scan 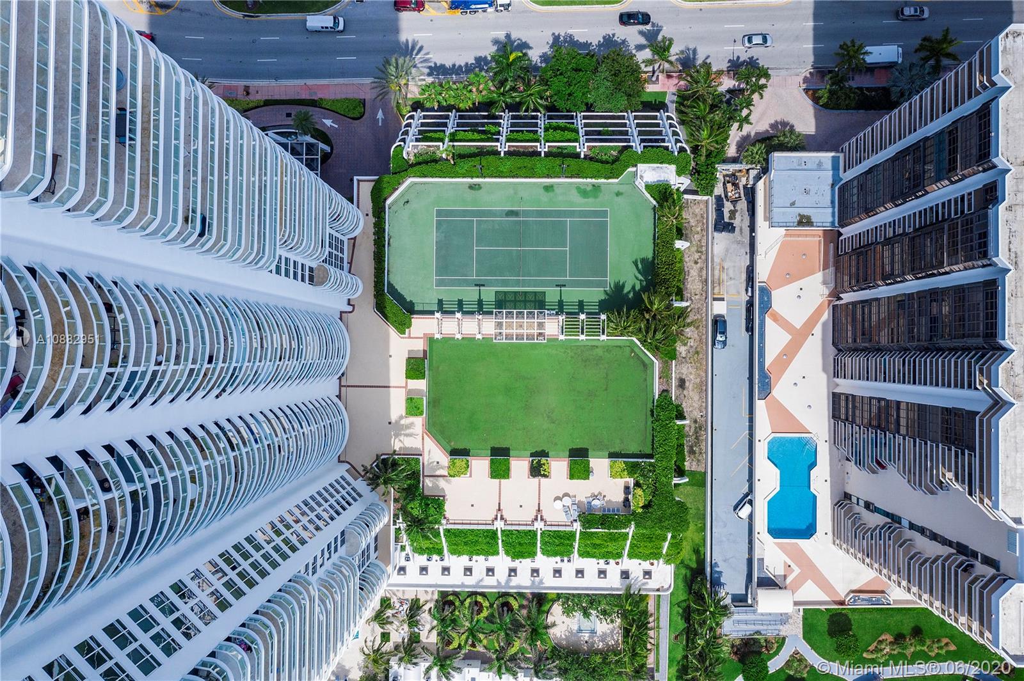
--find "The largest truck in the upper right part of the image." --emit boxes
[863,44,905,67]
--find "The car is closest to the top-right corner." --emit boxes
[896,5,928,22]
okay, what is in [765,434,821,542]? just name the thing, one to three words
swimming pool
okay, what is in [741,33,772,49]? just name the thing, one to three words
car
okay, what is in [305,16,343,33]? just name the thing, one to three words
vehicle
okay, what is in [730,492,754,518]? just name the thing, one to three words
car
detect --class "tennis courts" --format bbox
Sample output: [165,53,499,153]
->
[390,173,654,313]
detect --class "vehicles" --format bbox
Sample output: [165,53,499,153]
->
[744,266,754,296]
[305,16,343,33]
[730,492,754,518]
[712,316,728,348]
[130,26,158,46]
[395,0,425,12]
[863,44,905,67]
[741,33,772,49]
[896,5,928,22]
[744,302,754,335]
[746,578,754,606]
[619,11,650,27]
